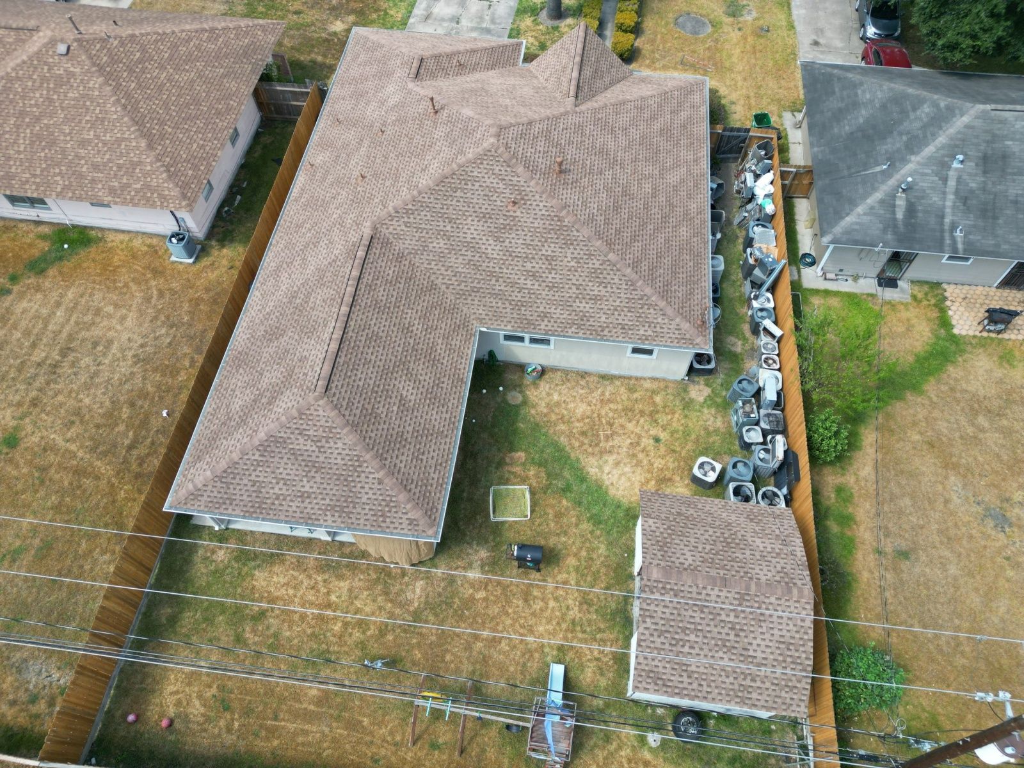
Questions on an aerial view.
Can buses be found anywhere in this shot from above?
No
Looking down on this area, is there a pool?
No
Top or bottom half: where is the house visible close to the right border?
top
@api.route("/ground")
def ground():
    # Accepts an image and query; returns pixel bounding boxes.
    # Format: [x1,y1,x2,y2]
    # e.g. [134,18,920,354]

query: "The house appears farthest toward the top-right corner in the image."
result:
[794,60,1024,295]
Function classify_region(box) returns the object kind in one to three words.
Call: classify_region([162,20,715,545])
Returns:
house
